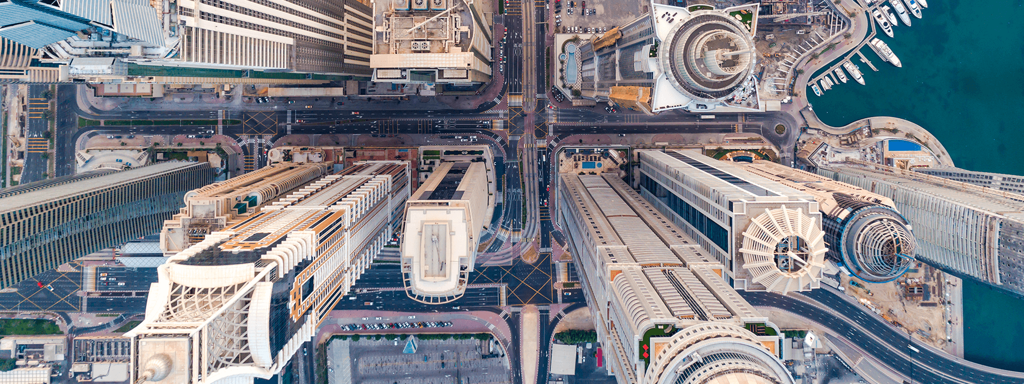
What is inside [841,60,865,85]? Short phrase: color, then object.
white boat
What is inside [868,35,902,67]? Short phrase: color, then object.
white boat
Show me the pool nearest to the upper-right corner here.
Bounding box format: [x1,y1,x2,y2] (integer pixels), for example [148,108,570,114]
[888,139,922,152]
